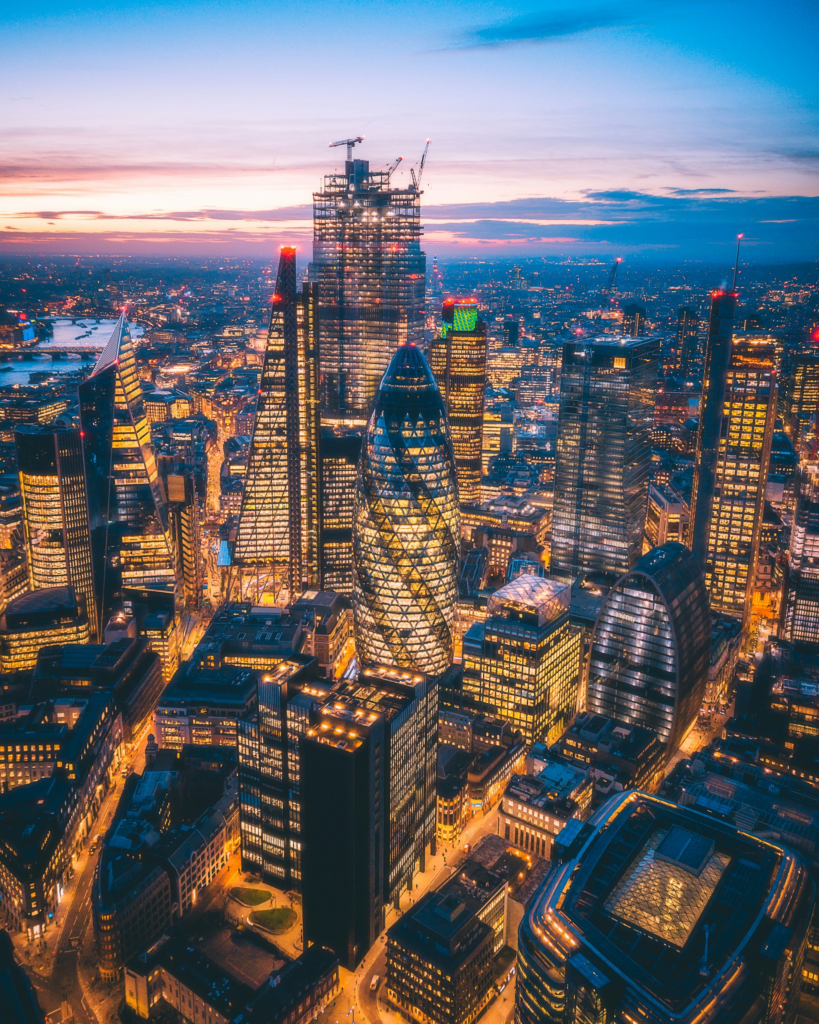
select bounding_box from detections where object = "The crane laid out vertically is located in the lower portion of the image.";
[694,921,718,982]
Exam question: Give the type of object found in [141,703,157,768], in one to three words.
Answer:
building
